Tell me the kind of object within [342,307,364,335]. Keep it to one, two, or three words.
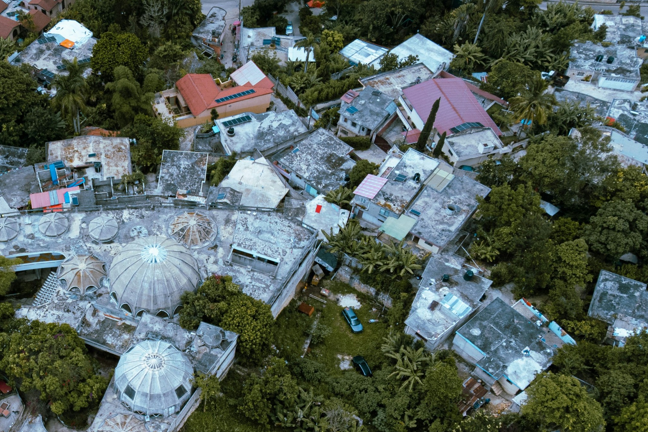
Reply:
car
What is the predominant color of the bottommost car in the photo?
black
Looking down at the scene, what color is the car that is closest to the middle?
blue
